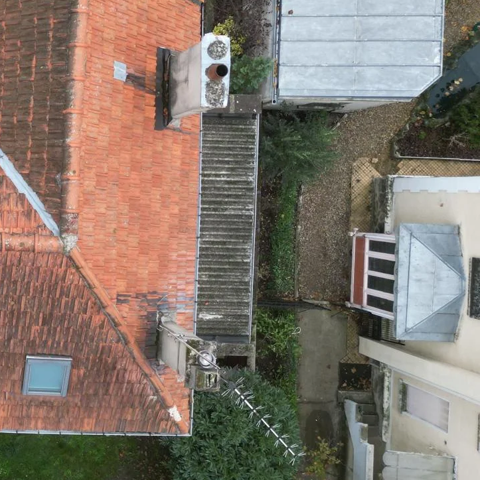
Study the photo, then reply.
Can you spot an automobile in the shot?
No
